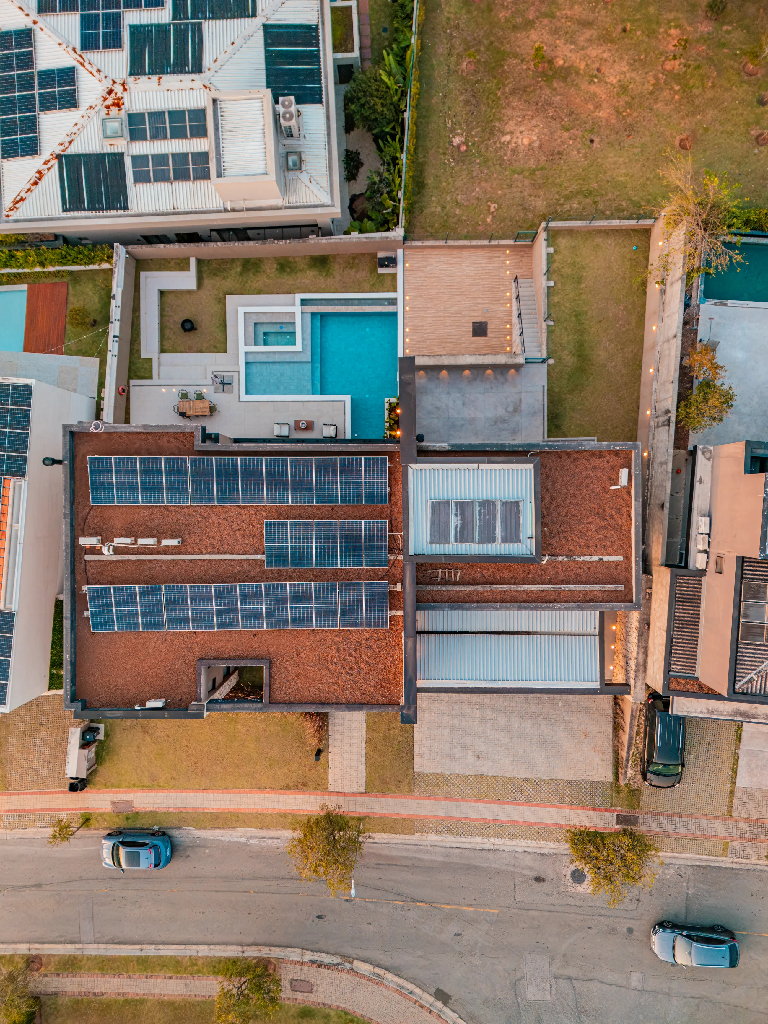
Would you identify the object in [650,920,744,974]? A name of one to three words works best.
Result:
car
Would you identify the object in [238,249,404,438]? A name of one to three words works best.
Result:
swimming pool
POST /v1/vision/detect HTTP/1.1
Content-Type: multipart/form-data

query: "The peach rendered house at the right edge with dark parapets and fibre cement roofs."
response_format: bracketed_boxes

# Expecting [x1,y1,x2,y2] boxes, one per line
[644,440,768,724]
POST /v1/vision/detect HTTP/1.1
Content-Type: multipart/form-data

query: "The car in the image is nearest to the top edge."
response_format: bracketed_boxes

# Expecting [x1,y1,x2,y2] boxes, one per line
[640,694,687,787]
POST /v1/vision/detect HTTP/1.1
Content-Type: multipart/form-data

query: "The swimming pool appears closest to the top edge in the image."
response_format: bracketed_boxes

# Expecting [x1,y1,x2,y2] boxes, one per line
[698,237,768,306]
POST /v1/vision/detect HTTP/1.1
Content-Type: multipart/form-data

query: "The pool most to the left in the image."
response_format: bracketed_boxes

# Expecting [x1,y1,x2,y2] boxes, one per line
[0,284,27,352]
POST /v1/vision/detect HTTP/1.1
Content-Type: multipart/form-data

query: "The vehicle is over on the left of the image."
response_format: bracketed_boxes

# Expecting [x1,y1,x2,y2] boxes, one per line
[100,830,171,872]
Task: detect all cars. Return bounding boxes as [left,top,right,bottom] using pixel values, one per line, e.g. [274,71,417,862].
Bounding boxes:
[640,694,687,787]
[100,830,171,872]
[650,920,744,974]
